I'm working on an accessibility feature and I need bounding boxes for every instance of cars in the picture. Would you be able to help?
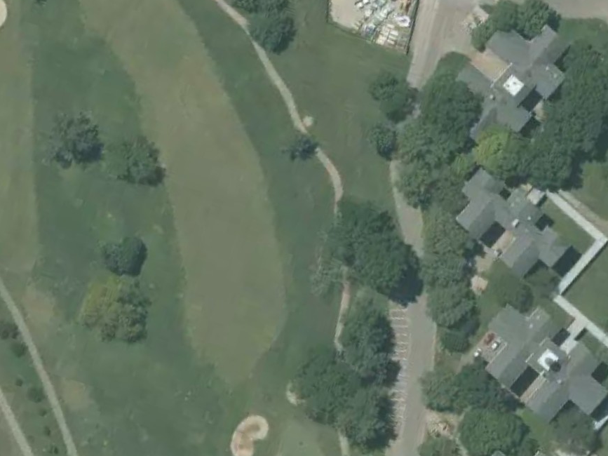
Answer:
[491,340,498,351]
[474,347,483,357]
[485,332,494,345]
